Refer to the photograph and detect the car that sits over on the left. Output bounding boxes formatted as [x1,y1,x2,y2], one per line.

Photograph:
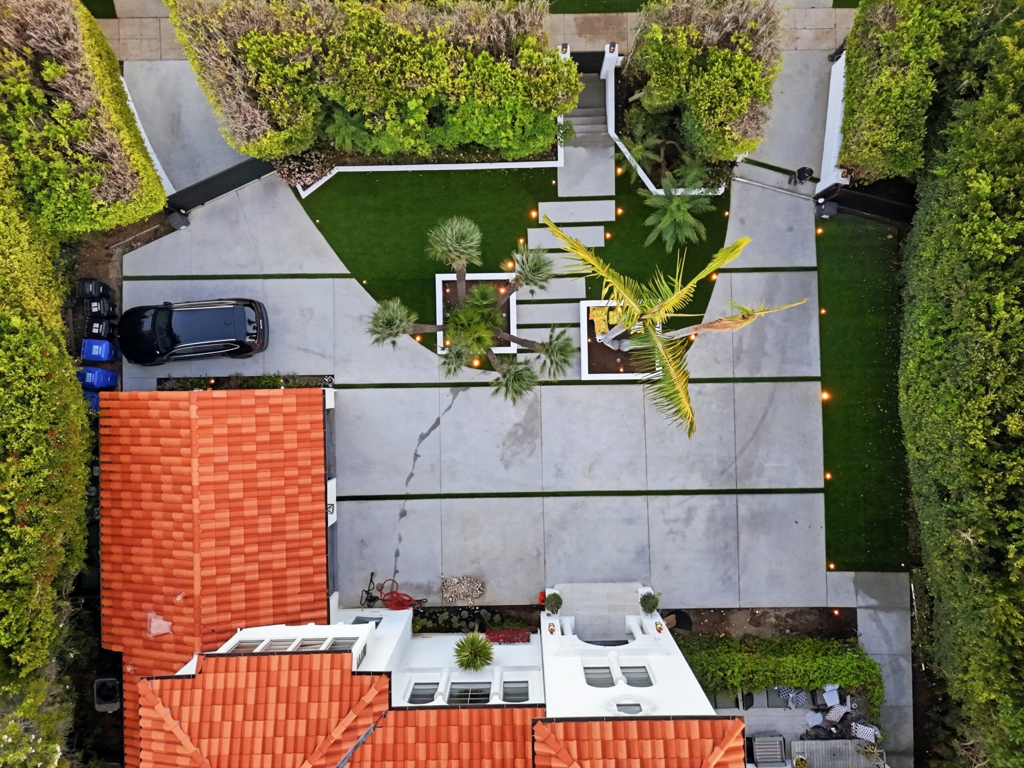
[118,298,271,369]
